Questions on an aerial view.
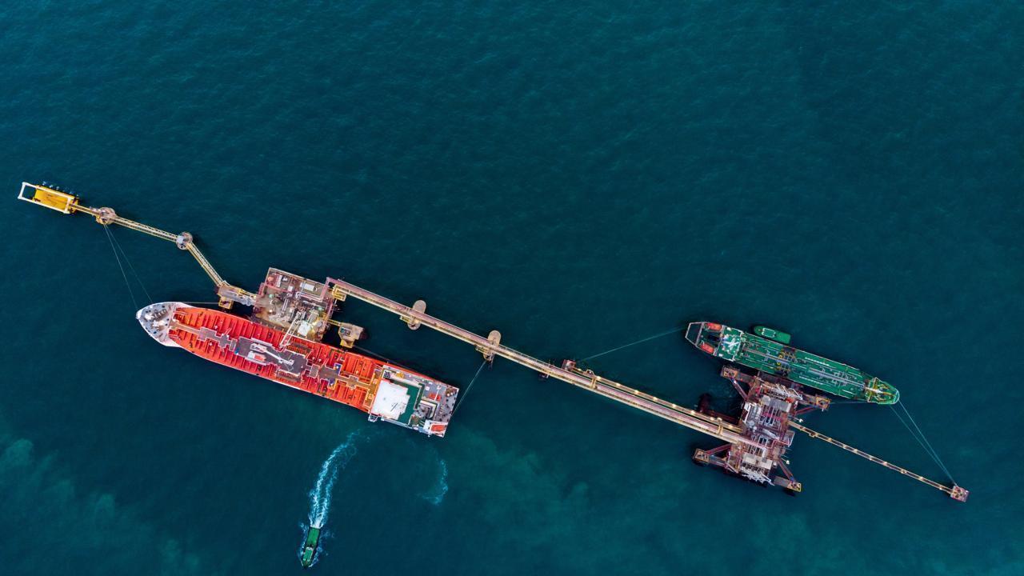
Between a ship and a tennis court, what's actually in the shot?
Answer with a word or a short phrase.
ship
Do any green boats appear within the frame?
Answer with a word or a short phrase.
Yes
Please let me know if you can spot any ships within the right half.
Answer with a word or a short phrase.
Yes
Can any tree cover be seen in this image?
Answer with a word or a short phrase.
No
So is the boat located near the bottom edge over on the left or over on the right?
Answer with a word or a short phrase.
left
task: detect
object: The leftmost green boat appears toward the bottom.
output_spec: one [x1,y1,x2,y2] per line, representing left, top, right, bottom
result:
[302,527,322,569]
